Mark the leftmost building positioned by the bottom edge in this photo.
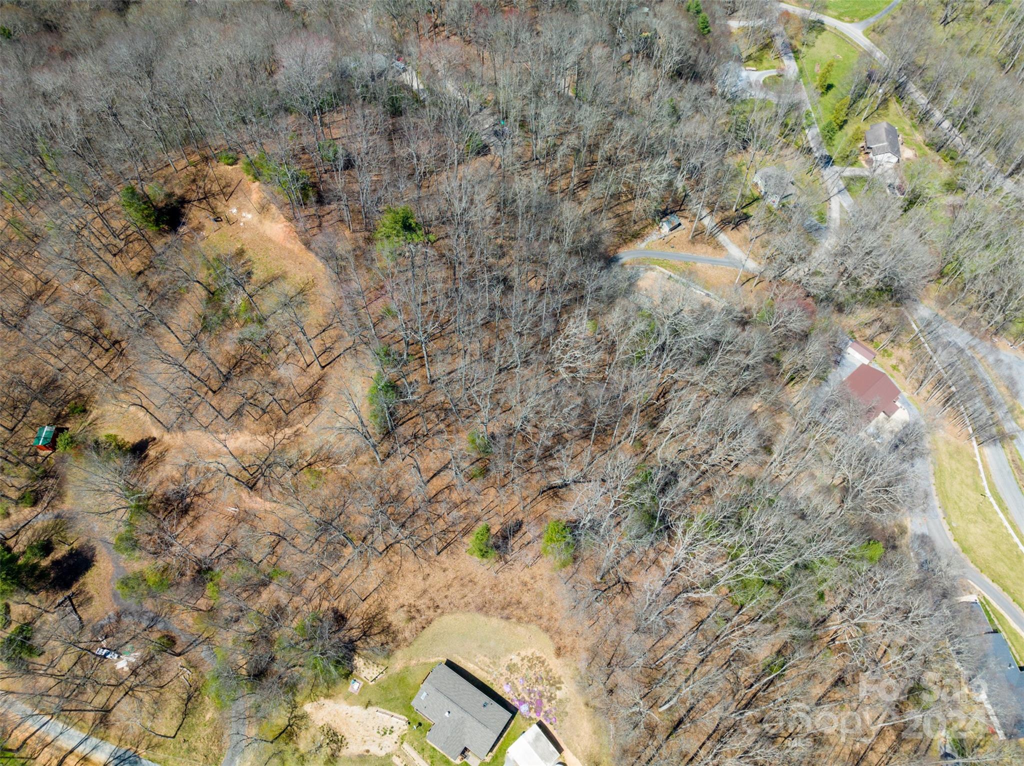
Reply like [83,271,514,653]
[411,662,512,765]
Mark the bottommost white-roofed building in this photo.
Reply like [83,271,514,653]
[507,724,560,766]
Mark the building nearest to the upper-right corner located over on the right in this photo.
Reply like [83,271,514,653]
[859,120,902,170]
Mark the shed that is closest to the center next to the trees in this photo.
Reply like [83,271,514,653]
[660,214,683,236]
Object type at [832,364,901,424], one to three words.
house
